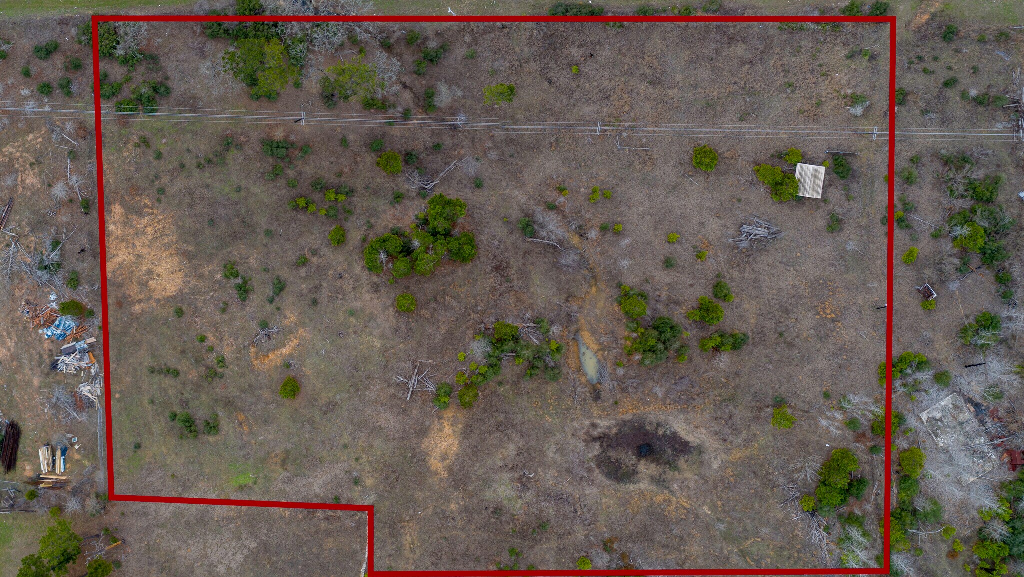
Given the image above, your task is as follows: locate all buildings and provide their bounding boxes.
[919,284,939,301]
[792,163,827,199]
